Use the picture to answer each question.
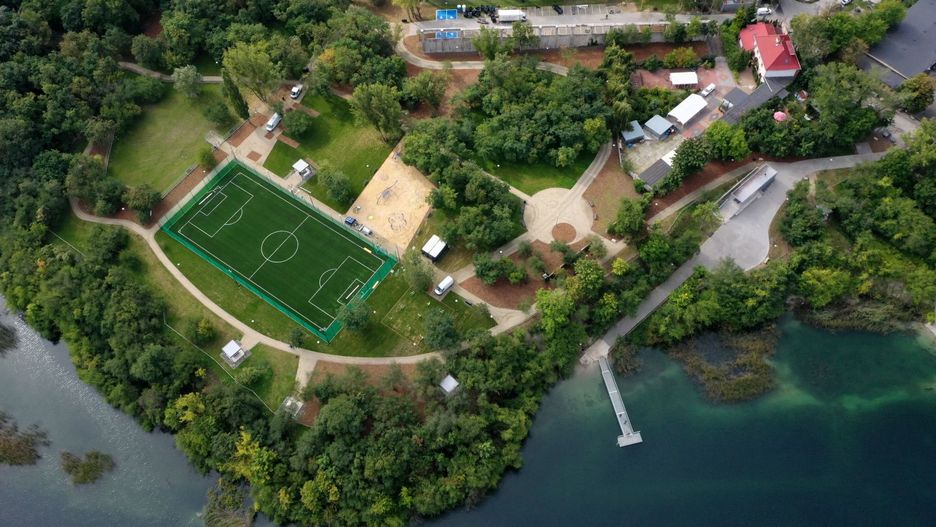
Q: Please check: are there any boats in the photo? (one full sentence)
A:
No, no boat can be seen from above.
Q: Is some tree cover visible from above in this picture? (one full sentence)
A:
Yes, there is tree cover in the image.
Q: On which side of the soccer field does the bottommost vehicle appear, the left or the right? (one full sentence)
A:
Relative to the soccer field, the bottommost vehicle is on the right.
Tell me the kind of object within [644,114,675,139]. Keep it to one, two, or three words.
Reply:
shed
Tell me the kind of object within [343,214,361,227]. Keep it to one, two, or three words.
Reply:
vehicle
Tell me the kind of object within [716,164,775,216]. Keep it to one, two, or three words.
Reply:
building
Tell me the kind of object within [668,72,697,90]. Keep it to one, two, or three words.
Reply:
tent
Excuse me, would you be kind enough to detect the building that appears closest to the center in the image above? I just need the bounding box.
[420,229,448,257]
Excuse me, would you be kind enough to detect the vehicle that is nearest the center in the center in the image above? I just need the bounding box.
[434,272,454,294]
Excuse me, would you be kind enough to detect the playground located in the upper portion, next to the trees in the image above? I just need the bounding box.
[346,140,436,252]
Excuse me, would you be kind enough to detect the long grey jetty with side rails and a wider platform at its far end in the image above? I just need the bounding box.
[599,356,644,448]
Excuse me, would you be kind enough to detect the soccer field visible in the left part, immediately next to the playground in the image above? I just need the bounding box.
[168,163,392,336]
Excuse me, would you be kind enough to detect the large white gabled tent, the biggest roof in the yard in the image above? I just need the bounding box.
[667,94,707,130]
